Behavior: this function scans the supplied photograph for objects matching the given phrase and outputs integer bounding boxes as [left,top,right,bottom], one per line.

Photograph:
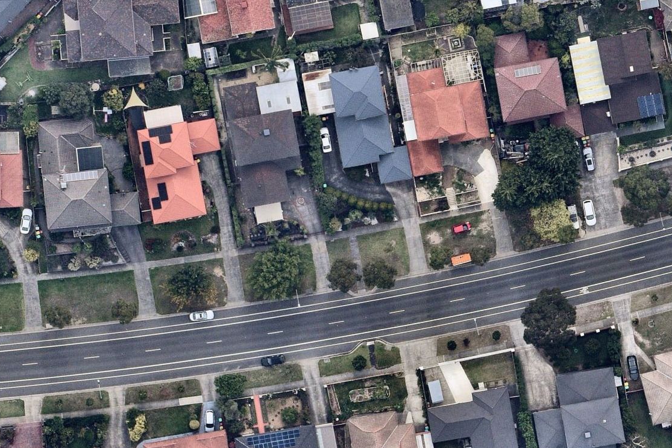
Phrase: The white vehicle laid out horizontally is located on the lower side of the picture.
[189,309,215,322]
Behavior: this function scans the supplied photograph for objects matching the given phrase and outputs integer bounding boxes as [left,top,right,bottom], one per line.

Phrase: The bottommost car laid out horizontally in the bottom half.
[260,354,286,367]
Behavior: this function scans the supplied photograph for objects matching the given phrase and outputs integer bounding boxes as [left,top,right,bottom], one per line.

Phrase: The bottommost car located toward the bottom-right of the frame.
[627,355,639,379]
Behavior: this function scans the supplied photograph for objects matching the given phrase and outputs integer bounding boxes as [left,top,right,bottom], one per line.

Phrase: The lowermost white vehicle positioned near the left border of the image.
[20,209,33,234]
